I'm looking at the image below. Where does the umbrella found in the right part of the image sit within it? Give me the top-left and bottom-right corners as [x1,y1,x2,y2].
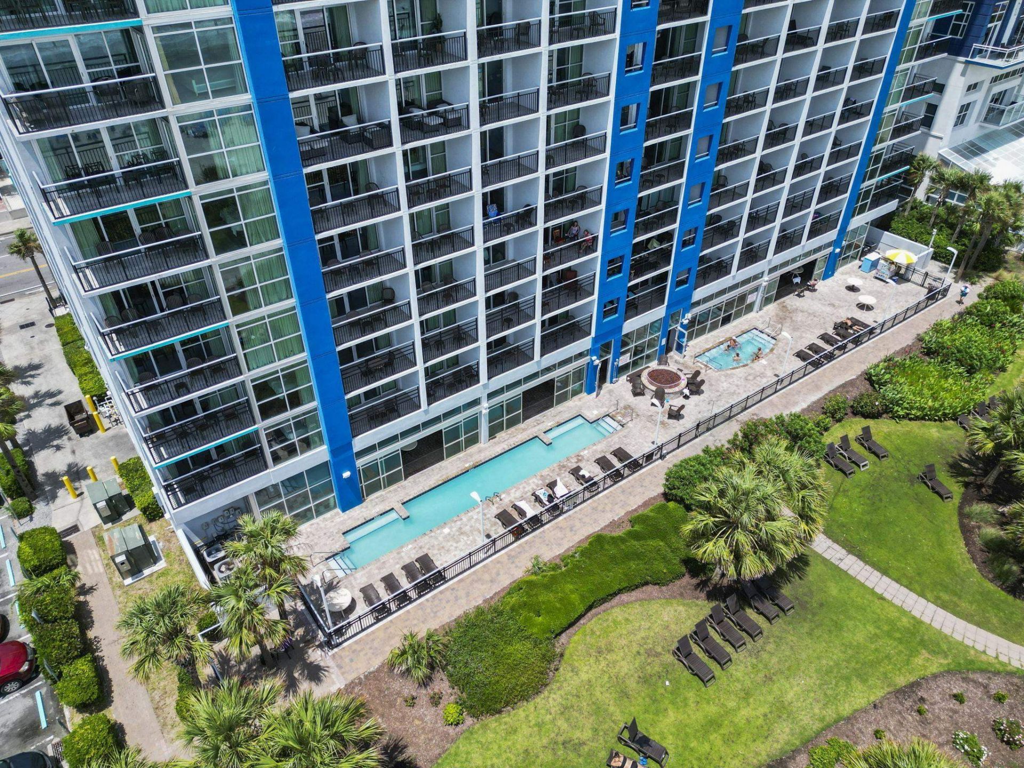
[885,248,919,266]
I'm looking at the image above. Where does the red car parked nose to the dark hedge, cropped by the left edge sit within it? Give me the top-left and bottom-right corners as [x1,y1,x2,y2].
[0,639,37,691]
